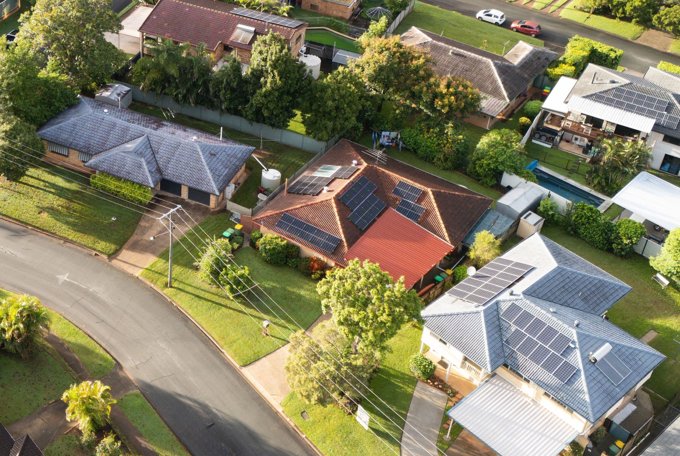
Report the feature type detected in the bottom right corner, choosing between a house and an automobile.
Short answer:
house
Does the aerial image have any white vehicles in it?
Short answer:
Yes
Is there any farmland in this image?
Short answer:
No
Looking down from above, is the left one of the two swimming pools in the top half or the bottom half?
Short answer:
top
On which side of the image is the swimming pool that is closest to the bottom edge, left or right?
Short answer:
right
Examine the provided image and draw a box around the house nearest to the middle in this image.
[243,139,496,271]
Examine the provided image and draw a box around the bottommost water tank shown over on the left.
[253,155,283,194]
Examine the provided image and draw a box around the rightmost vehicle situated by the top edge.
[509,21,544,37]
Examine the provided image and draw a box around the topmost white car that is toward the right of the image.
[475,9,508,25]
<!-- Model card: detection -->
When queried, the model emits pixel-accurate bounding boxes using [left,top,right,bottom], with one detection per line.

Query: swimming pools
[528,165,601,204]
[308,29,351,54]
